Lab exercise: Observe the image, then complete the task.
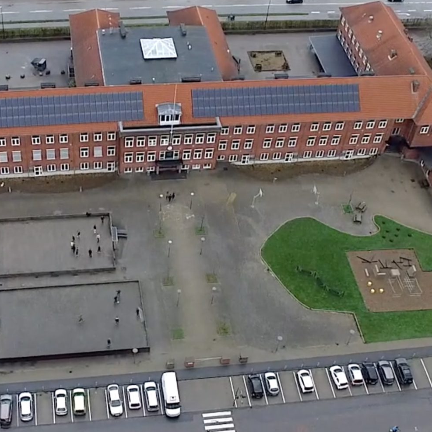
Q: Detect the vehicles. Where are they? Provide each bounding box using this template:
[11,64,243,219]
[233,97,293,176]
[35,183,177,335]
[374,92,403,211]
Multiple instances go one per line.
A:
[295,367,316,397]
[52,389,68,417]
[375,360,398,388]
[345,362,366,389]
[141,382,159,412]
[360,362,380,387]
[247,374,265,400]
[160,369,183,419]
[125,385,141,411]
[262,372,280,397]
[70,389,85,417]
[328,363,350,393]
[392,358,415,386]
[106,385,124,417]
[17,392,33,423]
